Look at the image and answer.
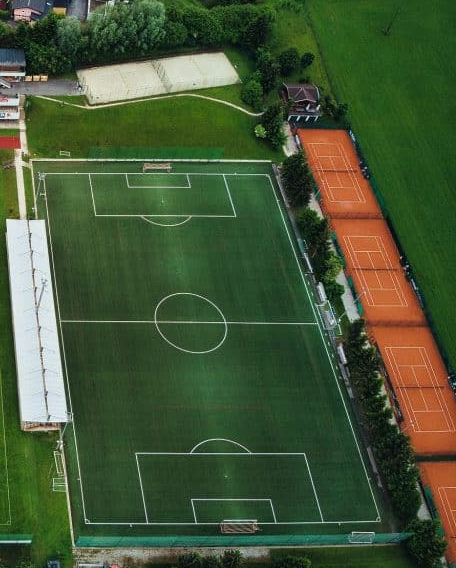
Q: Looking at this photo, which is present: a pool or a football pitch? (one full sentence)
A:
I can see a football pitch in this picture.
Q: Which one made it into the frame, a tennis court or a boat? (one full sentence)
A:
The image shows a tennis court.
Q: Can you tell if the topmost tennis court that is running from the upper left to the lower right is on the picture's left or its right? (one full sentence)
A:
The topmost tennis court that is running from the upper left to the lower right sits on the right side.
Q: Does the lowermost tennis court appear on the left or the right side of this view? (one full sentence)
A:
The lowermost tennis court sits on the right side.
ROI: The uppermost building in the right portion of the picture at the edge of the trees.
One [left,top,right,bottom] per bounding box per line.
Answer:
[280,86,322,120]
